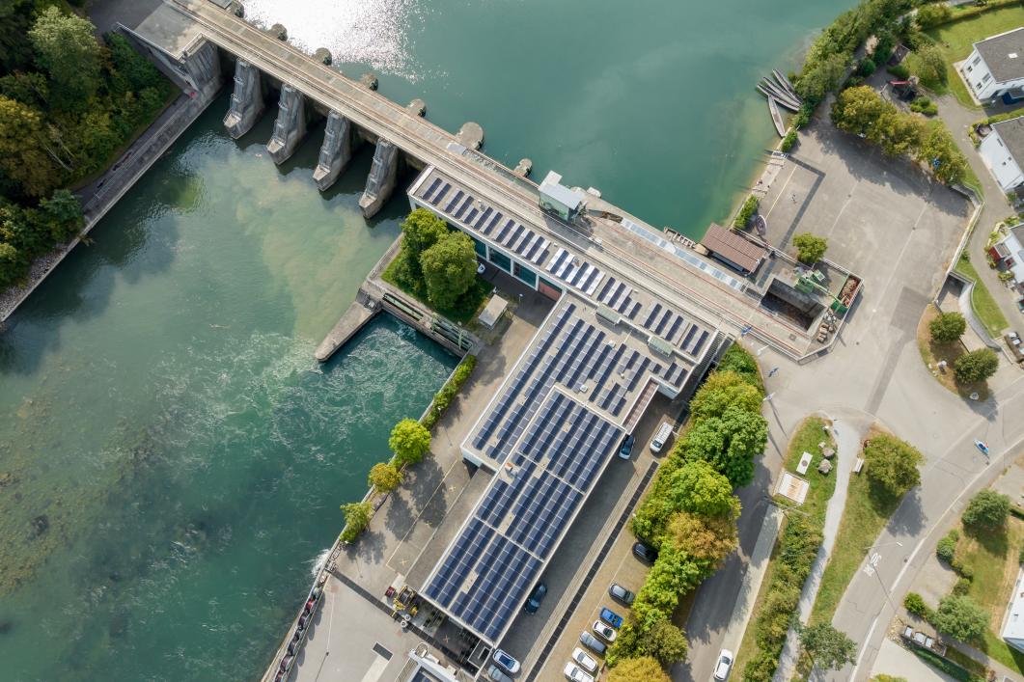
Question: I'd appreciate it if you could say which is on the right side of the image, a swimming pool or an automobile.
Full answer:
Visible on the right side of the image is an automobile.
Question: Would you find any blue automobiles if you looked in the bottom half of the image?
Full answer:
Yes, a blue automobile can be seen in the bottom half of the image.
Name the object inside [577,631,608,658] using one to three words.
car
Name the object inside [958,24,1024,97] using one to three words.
house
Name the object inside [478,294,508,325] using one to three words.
shed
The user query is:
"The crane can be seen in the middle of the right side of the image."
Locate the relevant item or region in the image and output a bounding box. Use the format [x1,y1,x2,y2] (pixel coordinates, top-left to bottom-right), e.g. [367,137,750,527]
[790,271,842,309]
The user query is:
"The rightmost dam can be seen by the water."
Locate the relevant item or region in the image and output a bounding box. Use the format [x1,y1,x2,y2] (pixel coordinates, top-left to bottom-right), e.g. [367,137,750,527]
[164,0,850,364]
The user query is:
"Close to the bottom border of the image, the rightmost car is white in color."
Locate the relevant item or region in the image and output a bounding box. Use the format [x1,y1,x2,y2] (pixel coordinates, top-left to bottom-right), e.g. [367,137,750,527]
[712,646,734,682]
